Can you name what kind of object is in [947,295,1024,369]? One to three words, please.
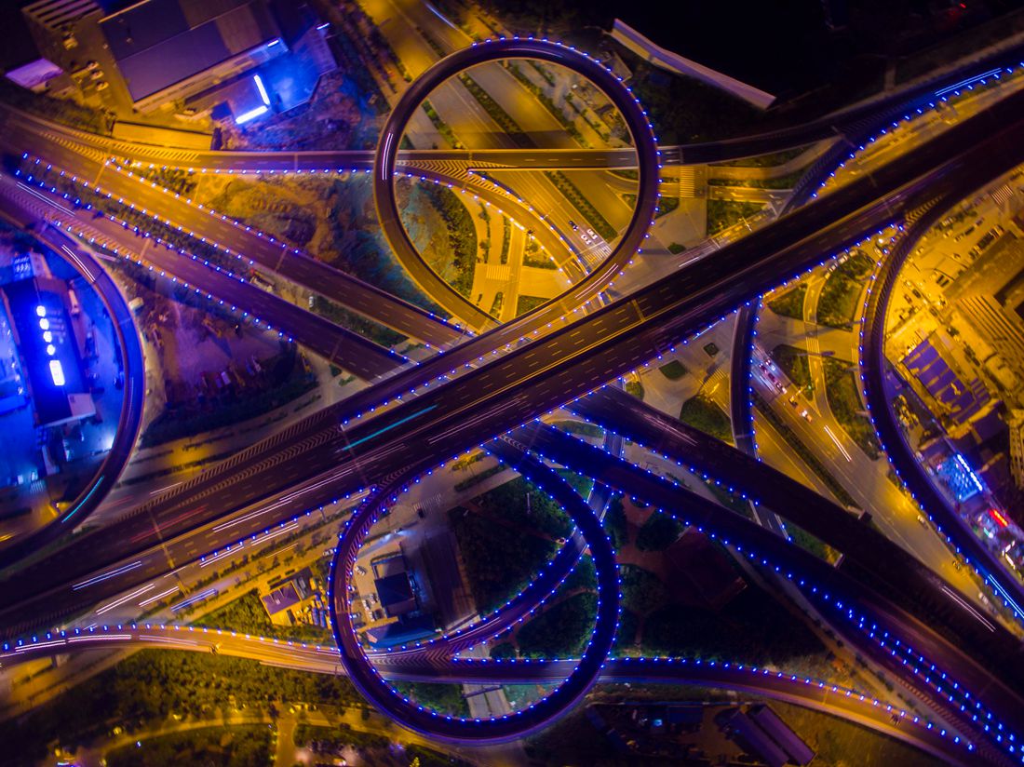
building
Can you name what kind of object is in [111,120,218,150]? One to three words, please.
building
